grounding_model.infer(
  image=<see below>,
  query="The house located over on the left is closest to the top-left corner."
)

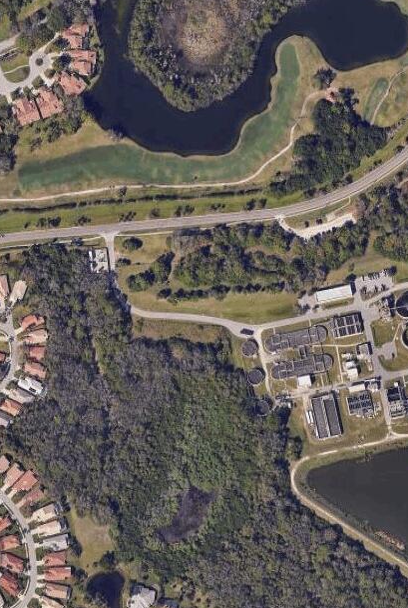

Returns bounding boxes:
[62,21,91,51]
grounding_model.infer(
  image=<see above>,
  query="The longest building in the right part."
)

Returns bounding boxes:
[316,285,354,303]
